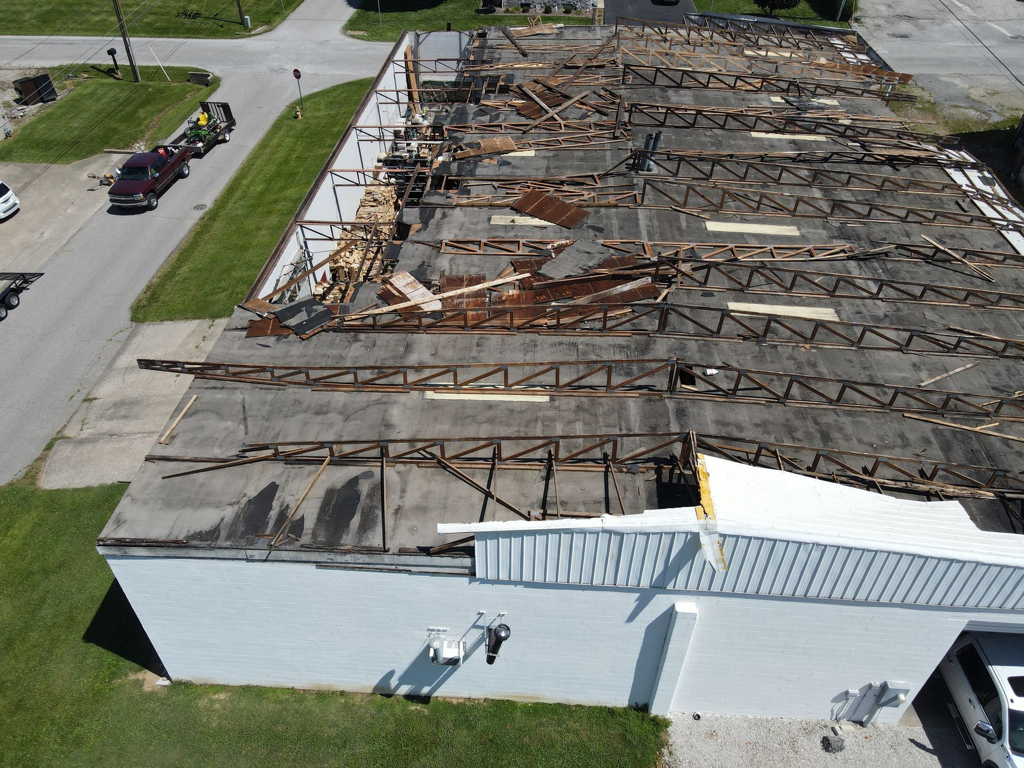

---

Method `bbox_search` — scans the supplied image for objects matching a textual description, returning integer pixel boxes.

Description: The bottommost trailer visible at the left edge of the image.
[0,244,36,317]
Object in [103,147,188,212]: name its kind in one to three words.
truck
